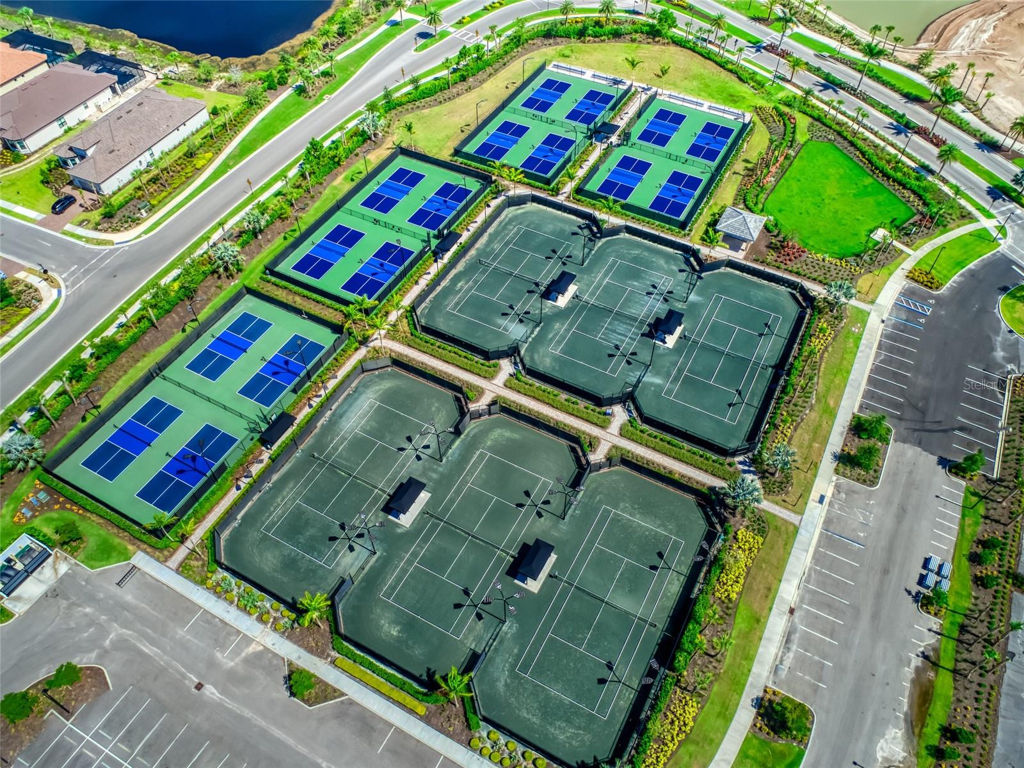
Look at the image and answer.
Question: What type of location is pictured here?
sports ground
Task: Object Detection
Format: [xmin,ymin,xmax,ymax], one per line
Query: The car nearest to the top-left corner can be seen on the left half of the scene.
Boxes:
[51,198,78,216]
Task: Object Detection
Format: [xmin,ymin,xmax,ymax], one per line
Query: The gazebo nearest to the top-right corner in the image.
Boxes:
[713,205,767,254]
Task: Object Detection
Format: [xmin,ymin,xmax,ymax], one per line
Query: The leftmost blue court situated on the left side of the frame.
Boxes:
[80,395,183,481]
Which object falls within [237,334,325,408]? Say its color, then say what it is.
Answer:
blue sports court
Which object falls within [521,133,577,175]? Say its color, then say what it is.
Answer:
blue sports court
